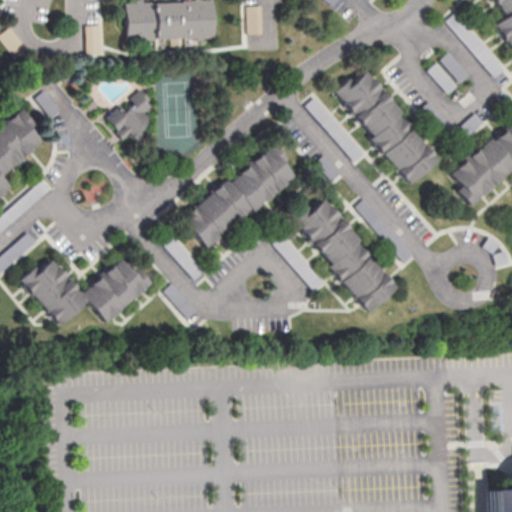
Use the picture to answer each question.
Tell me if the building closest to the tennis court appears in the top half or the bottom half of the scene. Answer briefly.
top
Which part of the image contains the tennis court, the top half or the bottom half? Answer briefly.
top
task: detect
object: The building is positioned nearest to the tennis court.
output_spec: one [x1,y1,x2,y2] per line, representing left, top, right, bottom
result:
[102,92,150,146]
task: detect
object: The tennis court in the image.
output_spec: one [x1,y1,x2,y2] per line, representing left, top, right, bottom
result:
[156,76,203,158]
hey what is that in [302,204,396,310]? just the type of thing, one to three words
building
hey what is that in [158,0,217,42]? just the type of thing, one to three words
building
